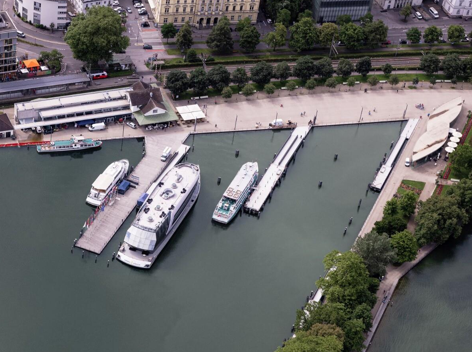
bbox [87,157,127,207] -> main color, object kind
white ship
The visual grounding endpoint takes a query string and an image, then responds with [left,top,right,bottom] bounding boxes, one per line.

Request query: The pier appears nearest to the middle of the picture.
[245,127,312,211]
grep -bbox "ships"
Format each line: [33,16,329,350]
[36,135,102,153]
[214,161,257,224]
[87,157,127,207]
[117,160,199,268]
